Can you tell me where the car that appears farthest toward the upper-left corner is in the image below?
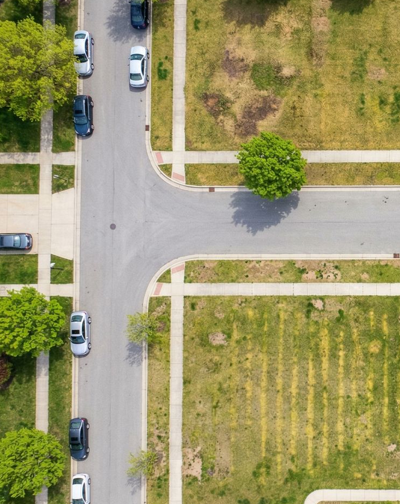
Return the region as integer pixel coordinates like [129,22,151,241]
[75,30,98,76]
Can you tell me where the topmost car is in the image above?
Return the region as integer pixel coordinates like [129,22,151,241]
[130,0,153,34]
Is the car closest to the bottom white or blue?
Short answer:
white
